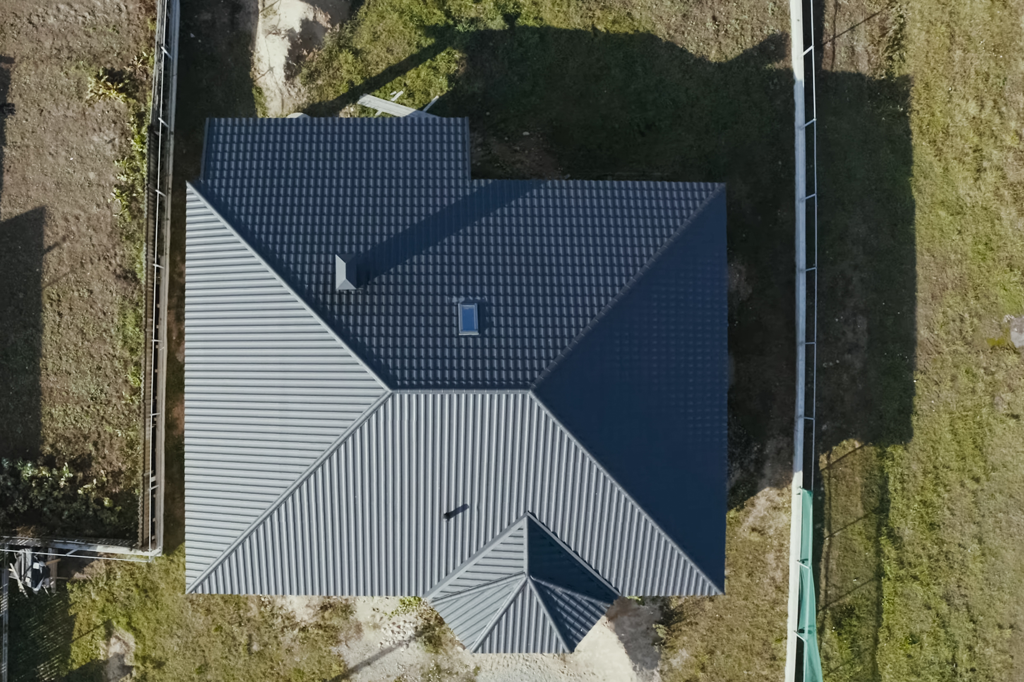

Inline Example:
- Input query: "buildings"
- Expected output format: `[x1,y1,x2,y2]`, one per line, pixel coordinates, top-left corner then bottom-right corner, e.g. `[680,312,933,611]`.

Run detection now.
[184,116,727,655]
